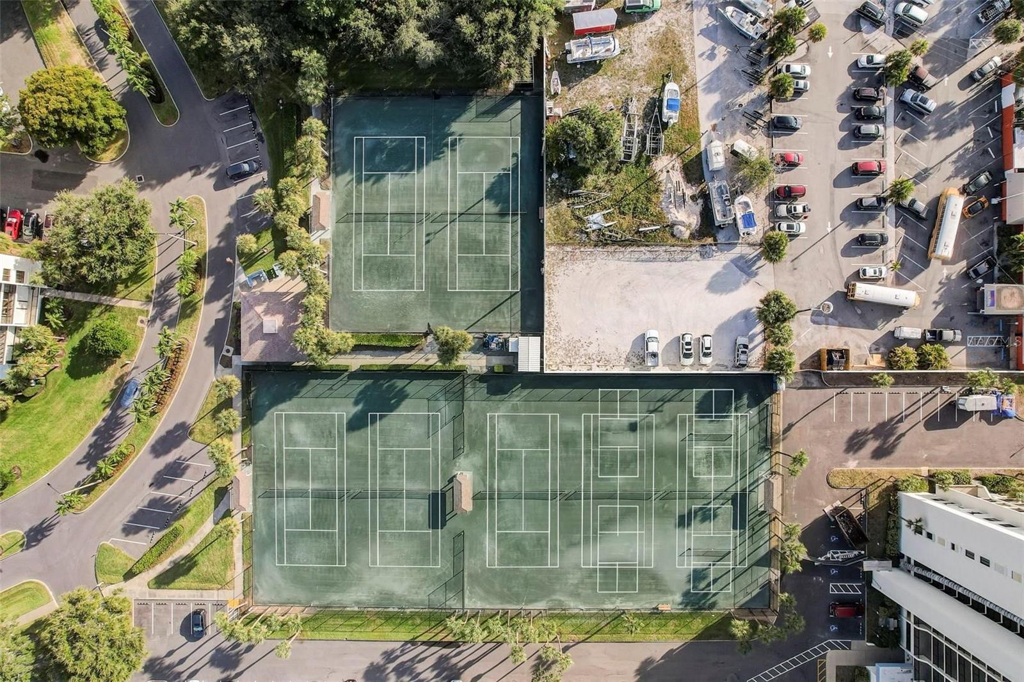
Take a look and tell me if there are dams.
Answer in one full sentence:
No, the scene contains no dam.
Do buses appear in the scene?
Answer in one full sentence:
Yes, there's a bus here.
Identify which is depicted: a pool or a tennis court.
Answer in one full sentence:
I can see a tennis court in this picture.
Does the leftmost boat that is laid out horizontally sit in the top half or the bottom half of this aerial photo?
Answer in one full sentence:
You can find the leftmost boat that is laid out horizontally in the top half.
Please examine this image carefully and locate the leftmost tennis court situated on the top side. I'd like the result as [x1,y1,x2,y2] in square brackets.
[353,136,425,291]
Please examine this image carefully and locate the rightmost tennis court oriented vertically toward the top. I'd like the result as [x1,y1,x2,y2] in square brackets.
[448,136,520,291]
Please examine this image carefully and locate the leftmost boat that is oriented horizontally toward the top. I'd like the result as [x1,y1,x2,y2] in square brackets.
[564,37,623,62]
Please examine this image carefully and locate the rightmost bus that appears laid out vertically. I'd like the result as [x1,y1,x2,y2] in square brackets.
[921,188,959,264]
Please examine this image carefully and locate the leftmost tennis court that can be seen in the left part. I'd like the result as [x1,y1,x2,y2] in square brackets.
[275,412,347,566]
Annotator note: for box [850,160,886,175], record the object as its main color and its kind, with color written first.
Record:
red car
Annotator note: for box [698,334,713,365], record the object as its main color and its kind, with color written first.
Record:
white car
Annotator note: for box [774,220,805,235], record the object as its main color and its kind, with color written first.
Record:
white car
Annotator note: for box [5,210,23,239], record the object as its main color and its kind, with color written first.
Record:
red car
